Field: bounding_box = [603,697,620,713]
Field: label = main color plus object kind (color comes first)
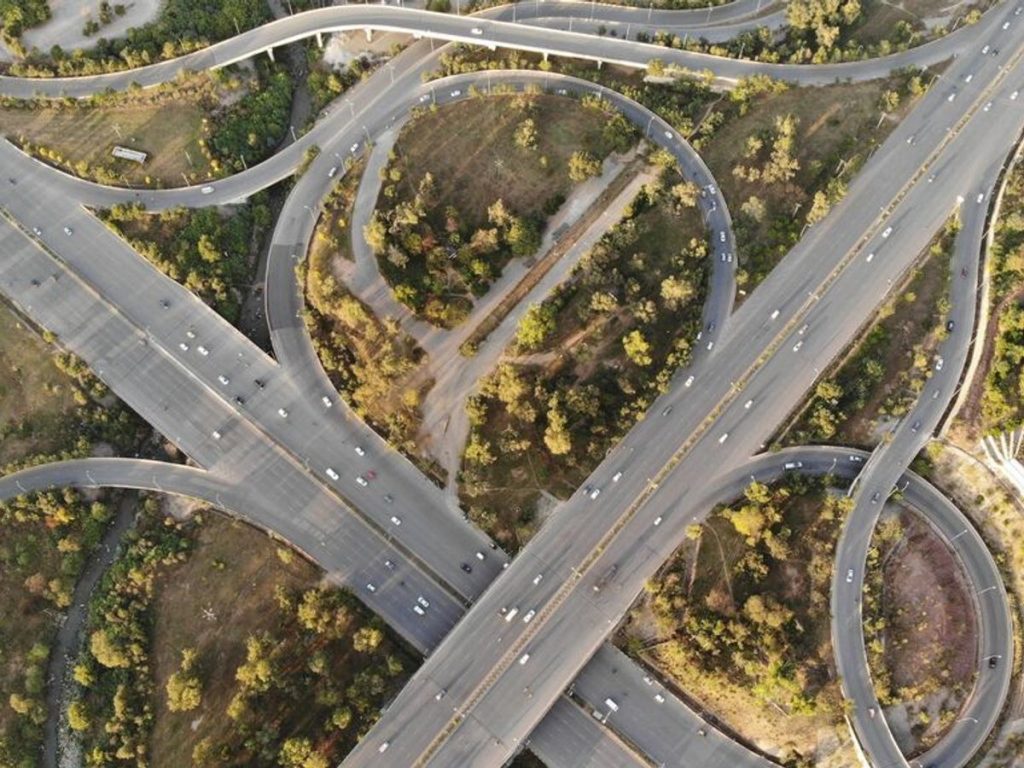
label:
white vehicle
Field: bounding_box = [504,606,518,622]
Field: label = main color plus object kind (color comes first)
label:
white vehicle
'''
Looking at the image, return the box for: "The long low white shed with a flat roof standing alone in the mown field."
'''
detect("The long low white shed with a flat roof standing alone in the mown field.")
[112,147,149,166]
